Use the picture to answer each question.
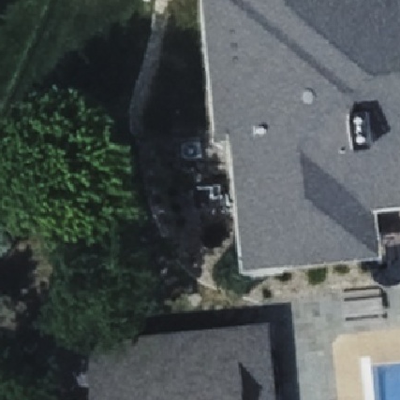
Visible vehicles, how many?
zero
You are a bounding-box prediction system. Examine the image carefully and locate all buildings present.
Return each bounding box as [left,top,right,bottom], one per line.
[84,323,276,400]
[198,0,400,275]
